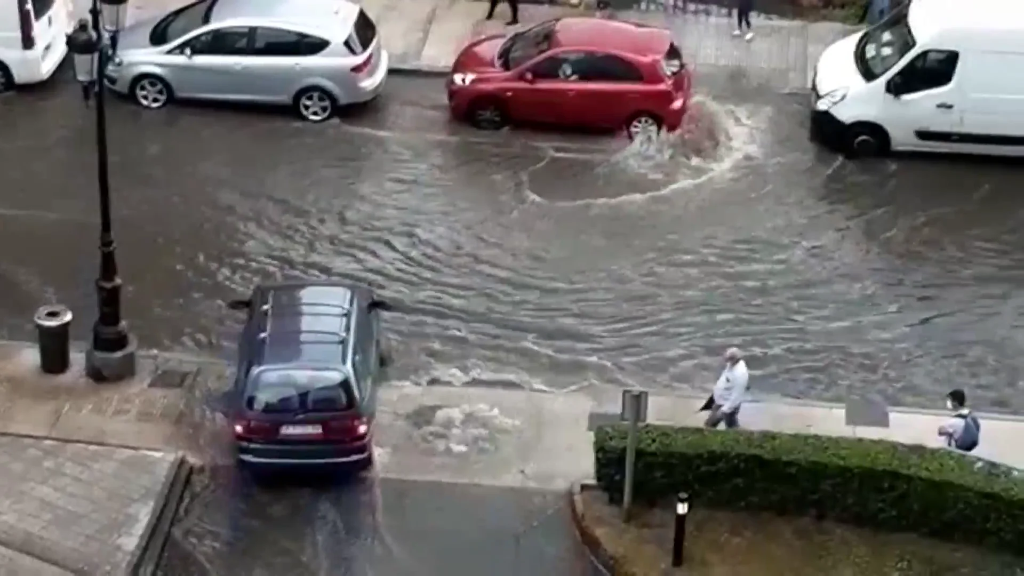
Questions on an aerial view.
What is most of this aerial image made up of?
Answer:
water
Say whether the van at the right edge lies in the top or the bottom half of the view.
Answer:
top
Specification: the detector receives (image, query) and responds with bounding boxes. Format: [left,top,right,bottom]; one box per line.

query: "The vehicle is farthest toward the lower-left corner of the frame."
[229,279,397,469]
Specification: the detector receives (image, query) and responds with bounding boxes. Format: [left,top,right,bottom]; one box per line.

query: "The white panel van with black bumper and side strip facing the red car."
[817,0,1024,156]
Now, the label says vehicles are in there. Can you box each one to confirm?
[452,22,687,143]
[108,0,386,120]
[0,0,72,89]
[229,279,397,469]
[817,0,1024,156]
